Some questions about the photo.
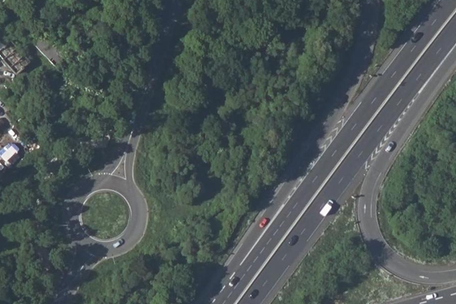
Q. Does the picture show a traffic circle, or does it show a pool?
traffic circle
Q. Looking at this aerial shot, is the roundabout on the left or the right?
left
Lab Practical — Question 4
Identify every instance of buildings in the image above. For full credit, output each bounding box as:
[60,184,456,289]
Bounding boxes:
[0,143,18,163]
[0,46,30,74]
[36,38,64,66]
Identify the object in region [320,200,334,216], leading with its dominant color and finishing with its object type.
white vehicle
